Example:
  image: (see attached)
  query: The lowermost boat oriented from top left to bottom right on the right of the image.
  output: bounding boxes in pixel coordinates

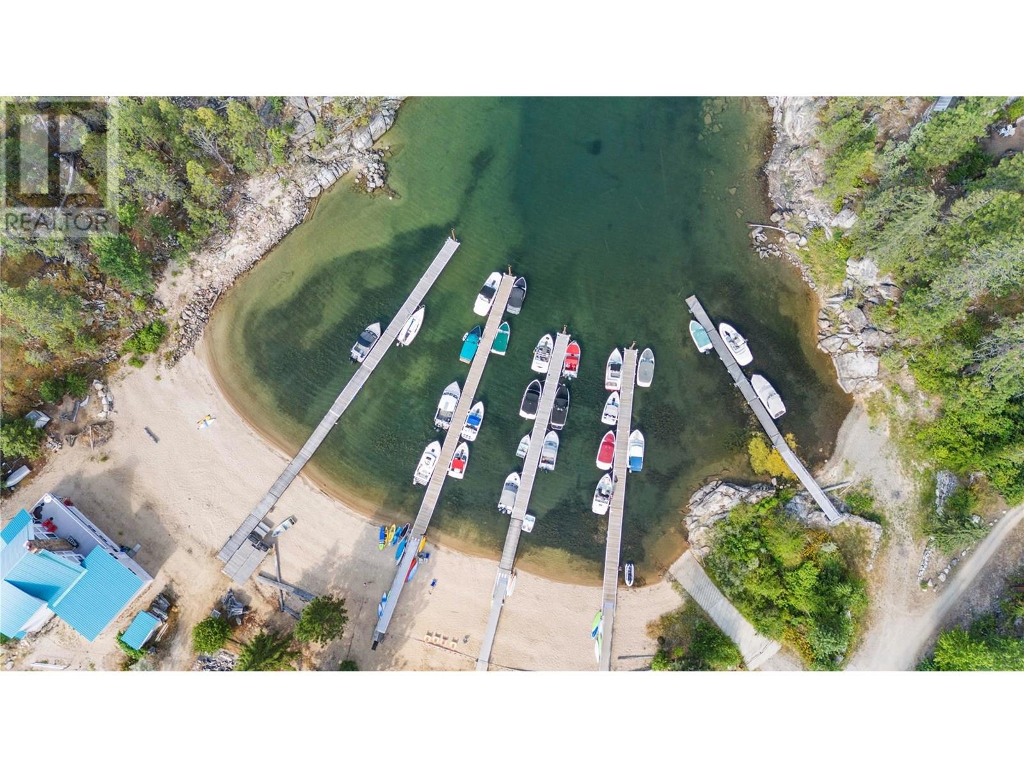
[752,375,786,419]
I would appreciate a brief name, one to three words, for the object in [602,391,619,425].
boat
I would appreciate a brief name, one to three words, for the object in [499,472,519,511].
boat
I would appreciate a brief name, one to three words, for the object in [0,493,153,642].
house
